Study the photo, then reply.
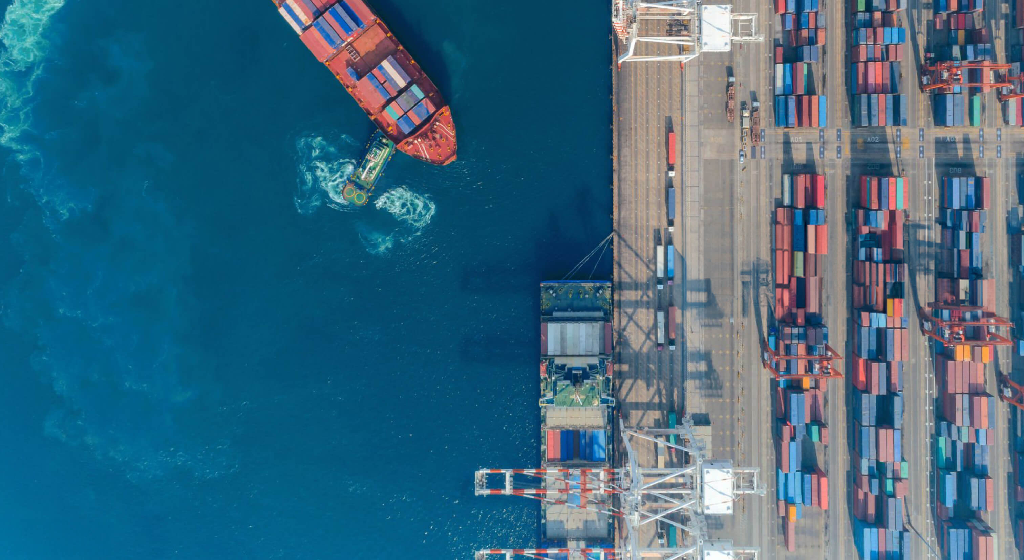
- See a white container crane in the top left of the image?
No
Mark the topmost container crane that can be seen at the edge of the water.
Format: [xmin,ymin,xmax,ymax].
[611,0,769,73]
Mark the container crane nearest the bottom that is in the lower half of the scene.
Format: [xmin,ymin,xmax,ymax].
[475,478,759,560]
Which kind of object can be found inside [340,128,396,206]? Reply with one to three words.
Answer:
boat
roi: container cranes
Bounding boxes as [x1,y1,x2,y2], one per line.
[922,59,1012,94]
[475,407,769,527]
[923,305,1014,347]
[611,0,769,73]
[1004,372,1024,411]
[475,478,759,560]
[764,337,846,380]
